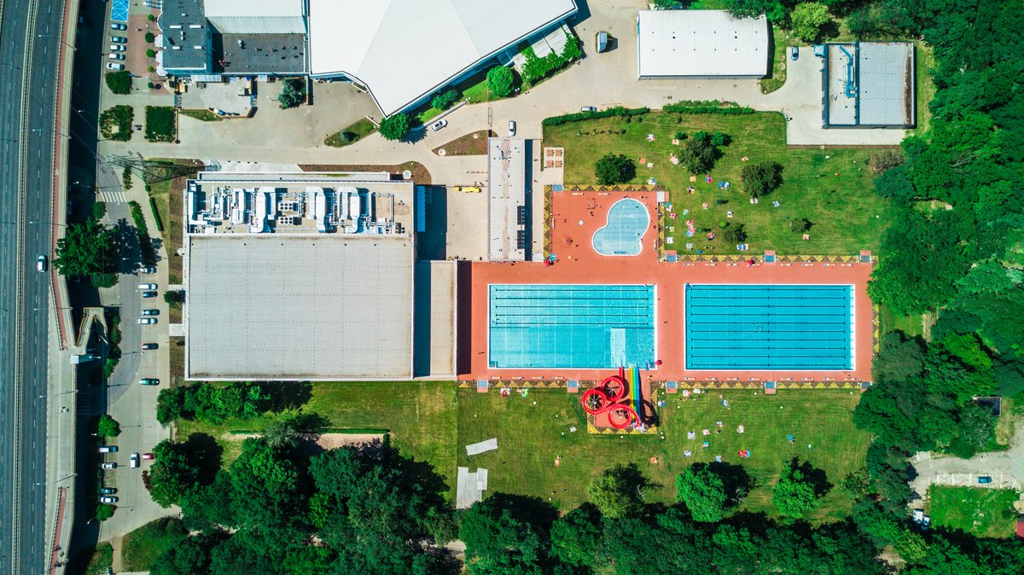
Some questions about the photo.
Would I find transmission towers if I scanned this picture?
Yes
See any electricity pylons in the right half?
No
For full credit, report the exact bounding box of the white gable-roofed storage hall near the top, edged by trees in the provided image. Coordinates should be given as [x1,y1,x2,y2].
[636,11,769,80]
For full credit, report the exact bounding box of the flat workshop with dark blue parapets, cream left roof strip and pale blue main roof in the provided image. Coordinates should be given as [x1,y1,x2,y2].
[819,42,914,129]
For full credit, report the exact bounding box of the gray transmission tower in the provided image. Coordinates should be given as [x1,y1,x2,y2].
[90,148,159,186]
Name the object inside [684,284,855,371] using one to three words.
swimming pool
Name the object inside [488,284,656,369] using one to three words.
swimming pool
